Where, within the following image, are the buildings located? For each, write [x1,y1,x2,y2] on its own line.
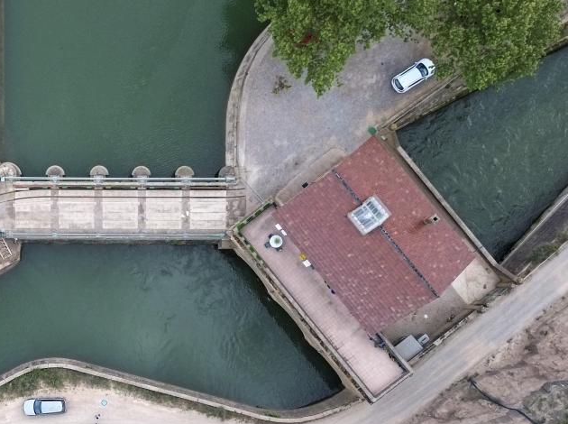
[274,136,477,334]
[388,334,424,362]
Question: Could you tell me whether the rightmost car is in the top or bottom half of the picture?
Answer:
top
